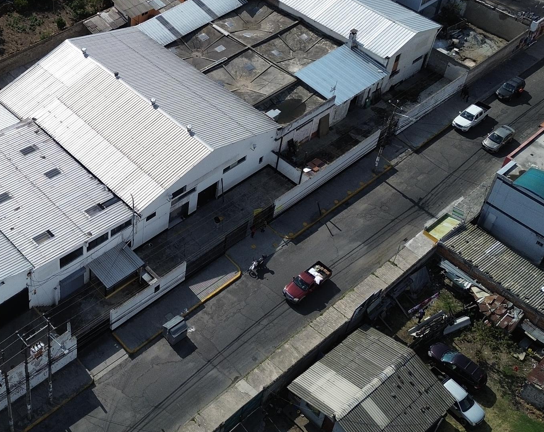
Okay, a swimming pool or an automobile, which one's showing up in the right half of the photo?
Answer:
automobile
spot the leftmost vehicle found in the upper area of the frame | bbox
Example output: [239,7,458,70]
[451,102,495,130]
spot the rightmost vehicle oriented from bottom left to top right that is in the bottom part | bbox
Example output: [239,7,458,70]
[283,261,335,304]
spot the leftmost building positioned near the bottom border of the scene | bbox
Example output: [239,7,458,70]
[287,325,455,432]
